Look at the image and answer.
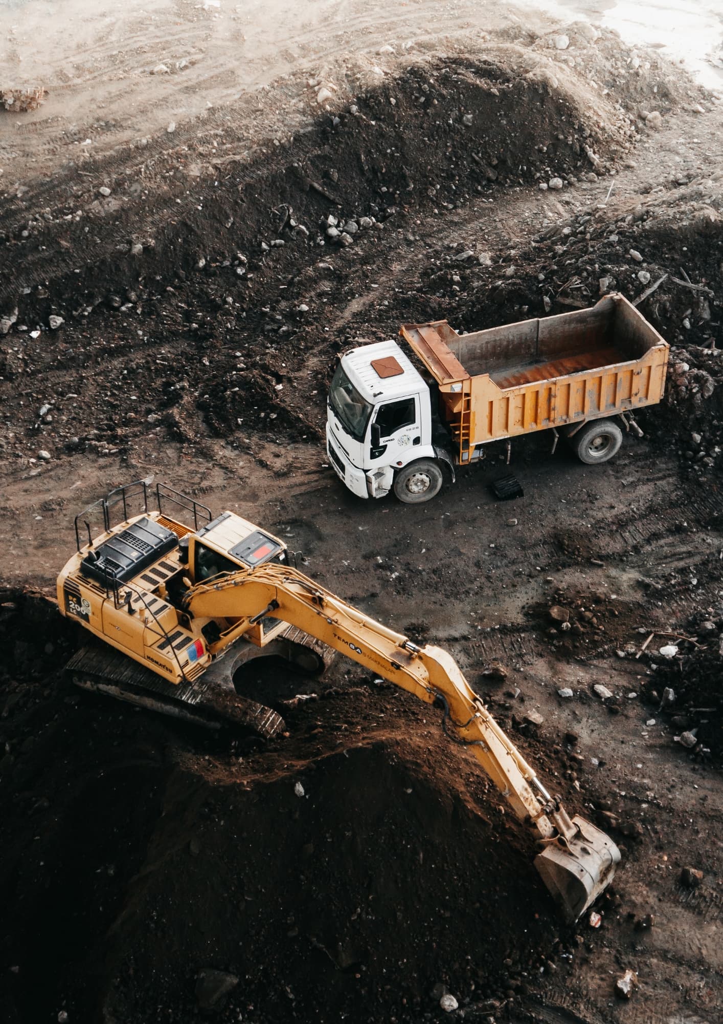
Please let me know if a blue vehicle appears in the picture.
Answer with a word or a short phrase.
No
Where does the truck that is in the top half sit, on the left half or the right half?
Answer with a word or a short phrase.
right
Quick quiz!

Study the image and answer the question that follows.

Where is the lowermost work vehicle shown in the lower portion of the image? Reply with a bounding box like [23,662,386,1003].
[57,483,626,929]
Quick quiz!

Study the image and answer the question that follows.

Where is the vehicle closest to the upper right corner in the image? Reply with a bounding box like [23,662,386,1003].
[327,291,671,504]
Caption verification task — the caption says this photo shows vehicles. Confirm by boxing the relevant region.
[327,291,671,504]
[57,483,626,929]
